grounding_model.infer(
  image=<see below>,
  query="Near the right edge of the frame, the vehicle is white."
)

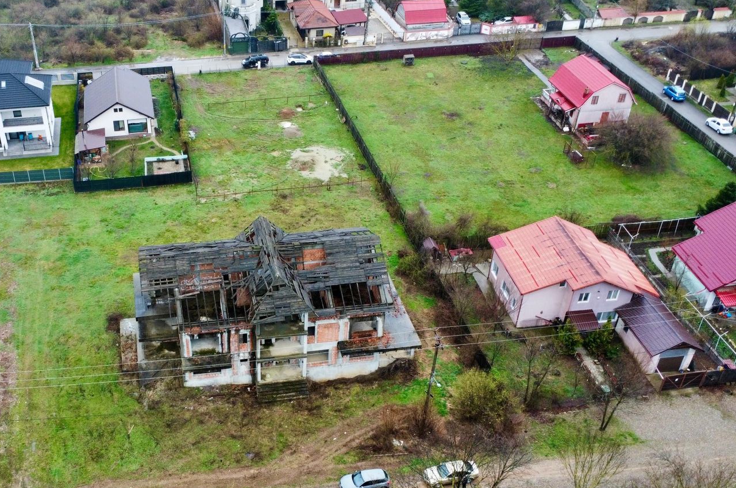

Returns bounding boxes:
[706,118,736,136]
